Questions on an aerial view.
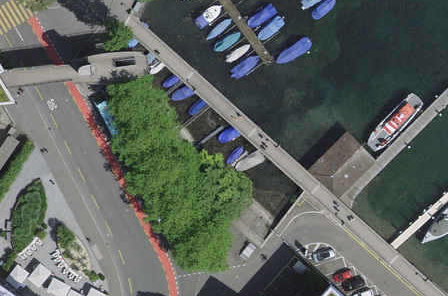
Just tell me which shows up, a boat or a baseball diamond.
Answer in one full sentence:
Of the two, only a boat appears.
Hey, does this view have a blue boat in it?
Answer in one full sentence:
Yes, the picture does show a blue boat.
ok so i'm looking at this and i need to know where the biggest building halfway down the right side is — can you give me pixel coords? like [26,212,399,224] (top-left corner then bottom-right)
[308,130,376,198]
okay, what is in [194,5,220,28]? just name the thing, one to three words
boat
